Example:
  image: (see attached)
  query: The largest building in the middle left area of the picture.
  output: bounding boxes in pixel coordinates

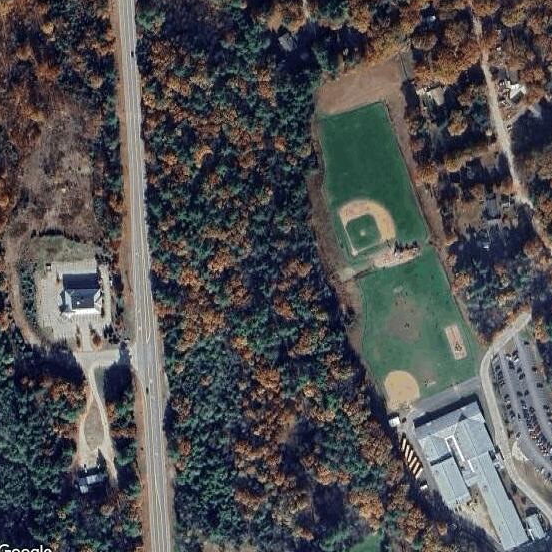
[64,288,101,316]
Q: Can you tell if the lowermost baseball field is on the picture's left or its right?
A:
right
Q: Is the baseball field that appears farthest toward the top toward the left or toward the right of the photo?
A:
right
